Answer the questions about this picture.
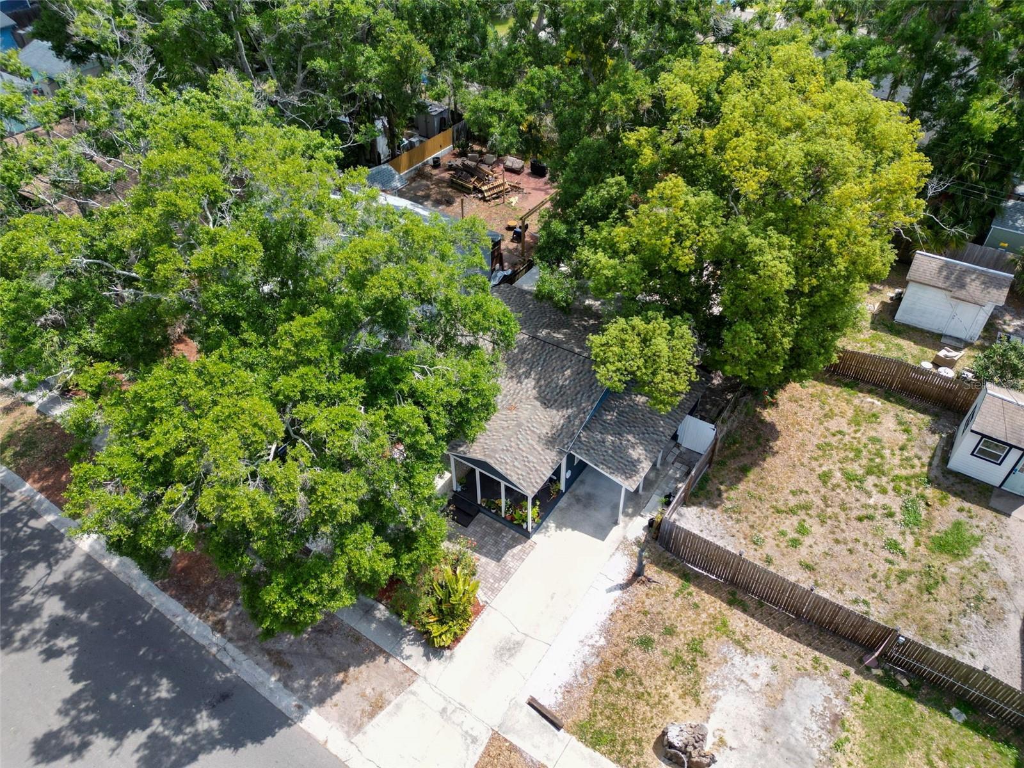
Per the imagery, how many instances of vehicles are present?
zero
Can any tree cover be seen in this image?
Yes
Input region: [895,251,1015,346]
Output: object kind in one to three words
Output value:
shed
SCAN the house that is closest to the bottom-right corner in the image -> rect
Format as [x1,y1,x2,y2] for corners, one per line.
[949,367,1024,495]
